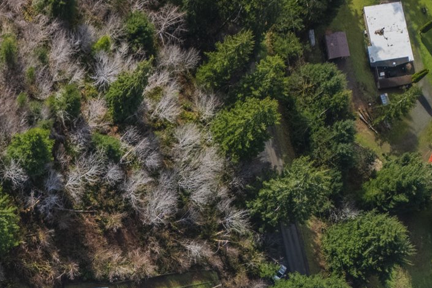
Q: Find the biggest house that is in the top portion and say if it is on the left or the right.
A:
right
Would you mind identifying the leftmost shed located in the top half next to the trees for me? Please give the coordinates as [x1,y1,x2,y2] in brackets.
[323,32,349,61]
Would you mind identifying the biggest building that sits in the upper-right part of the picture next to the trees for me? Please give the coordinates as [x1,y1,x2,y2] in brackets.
[358,1,412,91]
